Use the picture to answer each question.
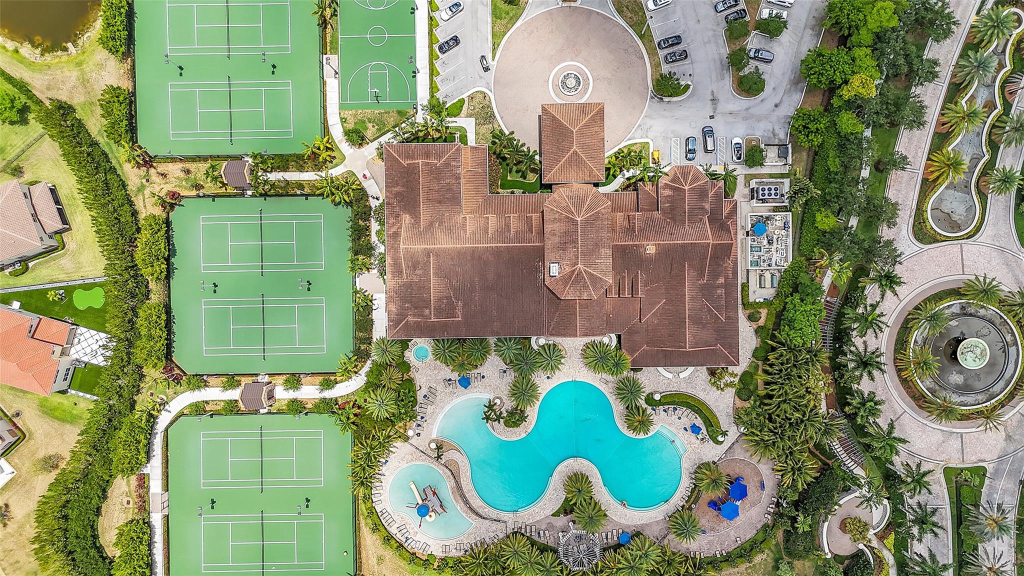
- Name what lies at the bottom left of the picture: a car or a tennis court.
tennis court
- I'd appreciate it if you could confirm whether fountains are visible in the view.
Yes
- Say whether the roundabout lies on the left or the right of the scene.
right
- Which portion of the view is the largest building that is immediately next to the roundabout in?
center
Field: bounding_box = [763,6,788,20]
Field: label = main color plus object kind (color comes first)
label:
white car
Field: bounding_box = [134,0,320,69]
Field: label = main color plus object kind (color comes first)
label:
green tennis court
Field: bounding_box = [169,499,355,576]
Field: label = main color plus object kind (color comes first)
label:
green tennis court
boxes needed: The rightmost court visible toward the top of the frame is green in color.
[338,0,417,110]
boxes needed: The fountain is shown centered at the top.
[559,70,583,95]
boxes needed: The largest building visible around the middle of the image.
[383,99,739,367]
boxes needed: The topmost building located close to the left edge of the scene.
[0,179,75,269]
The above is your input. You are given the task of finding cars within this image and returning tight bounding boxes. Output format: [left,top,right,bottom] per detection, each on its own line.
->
[715,0,741,12]
[702,125,716,152]
[436,35,460,54]
[749,46,777,62]
[763,6,788,20]
[724,7,750,22]
[440,0,465,19]
[686,136,698,160]
[647,0,673,9]
[657,34,684,48]
[664,48,690,63]
[732,136,745,162]
[769,0,795,7]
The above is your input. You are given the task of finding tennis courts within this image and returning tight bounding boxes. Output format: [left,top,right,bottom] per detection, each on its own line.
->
[172,283,354,375]
[134,0,320,69]
[169,499,355,576]
[171,197,353,285]
[168,414,353,502]
[135,66,324,157]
